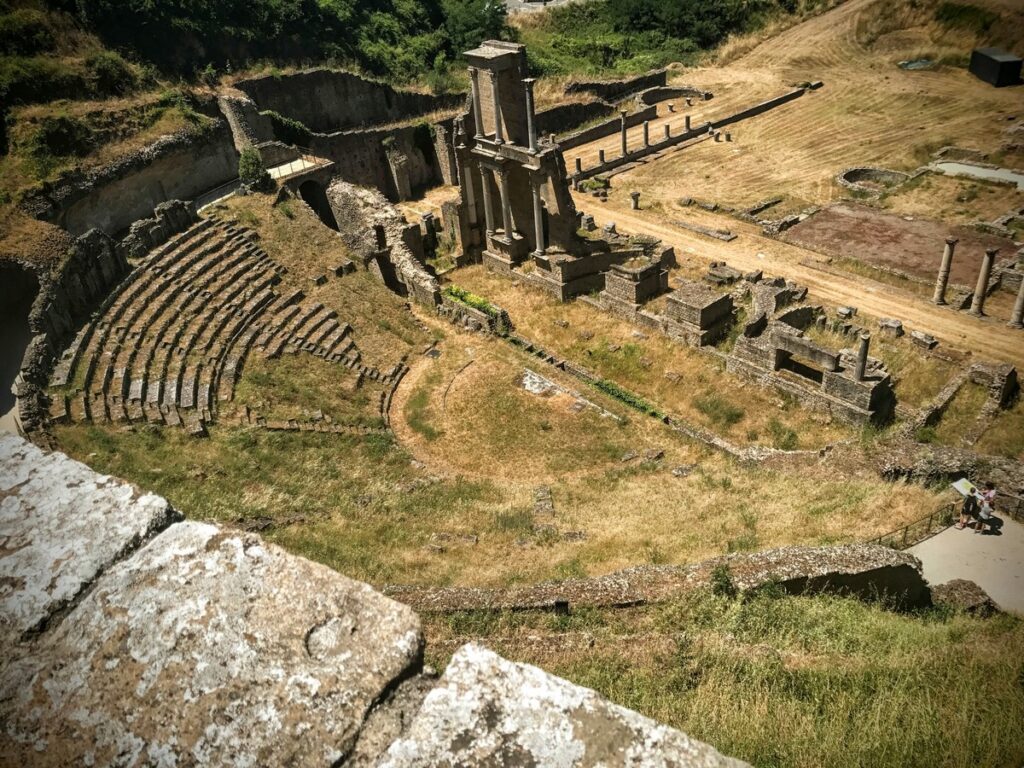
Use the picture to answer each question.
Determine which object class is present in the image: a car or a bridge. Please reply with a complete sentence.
It is a bridge that can be seen here.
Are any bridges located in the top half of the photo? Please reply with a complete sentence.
Yes, I can see a bridge in the top half of the photo.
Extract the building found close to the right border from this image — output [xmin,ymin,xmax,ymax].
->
[970,42,1024,87]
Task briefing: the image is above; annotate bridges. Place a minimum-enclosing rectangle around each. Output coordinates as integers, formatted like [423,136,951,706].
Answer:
[278,136,337,223]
